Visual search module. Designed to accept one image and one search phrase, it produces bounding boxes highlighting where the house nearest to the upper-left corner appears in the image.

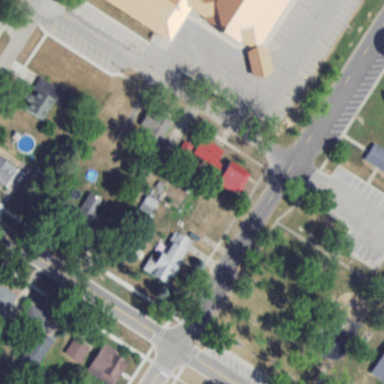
[31,76,60,120]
